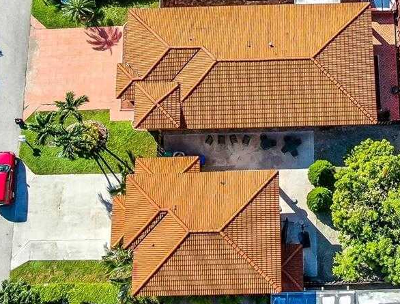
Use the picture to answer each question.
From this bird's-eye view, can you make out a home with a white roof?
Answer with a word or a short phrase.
No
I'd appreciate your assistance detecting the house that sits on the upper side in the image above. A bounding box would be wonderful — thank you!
[115,2,378,130]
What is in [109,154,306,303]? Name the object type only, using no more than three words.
house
